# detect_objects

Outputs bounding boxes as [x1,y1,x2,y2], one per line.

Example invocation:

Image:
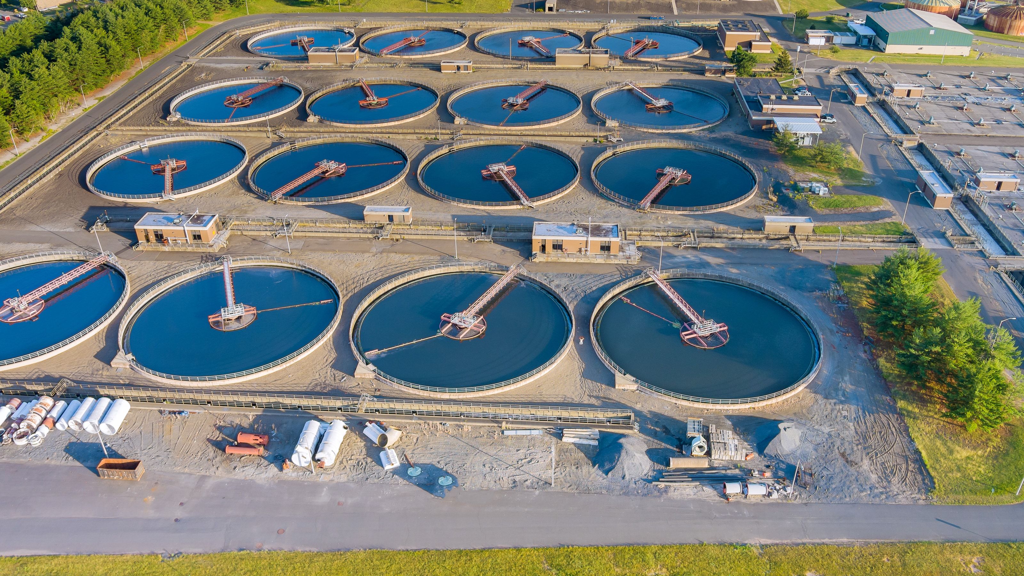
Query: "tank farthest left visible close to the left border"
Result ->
[0,251,131,372]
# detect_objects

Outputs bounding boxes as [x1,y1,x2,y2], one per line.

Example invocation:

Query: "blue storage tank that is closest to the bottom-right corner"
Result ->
[589,264,823,410]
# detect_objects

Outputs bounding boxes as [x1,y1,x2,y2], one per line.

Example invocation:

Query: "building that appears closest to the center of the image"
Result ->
[532,216,619,255]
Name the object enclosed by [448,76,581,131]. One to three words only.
storage tank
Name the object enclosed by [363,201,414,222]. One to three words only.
shed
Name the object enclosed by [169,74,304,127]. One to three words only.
storage tank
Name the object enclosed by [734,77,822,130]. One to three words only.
building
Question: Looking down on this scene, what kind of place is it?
industrial area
